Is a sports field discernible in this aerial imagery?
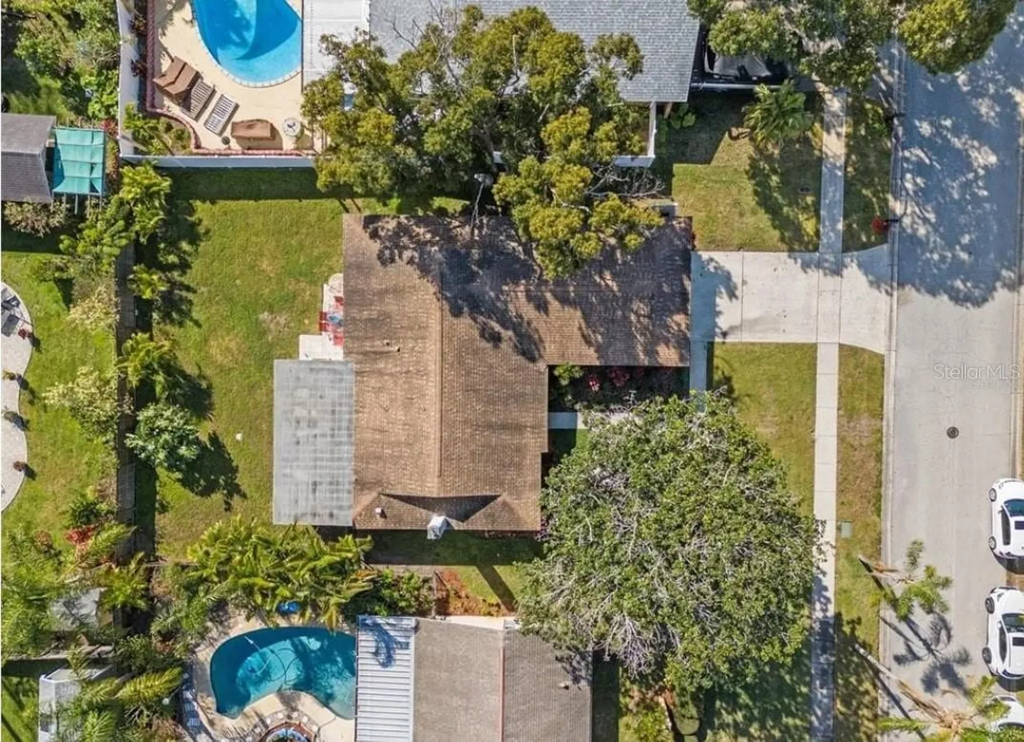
No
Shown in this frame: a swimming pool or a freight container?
swimming pool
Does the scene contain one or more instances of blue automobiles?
No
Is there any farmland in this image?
No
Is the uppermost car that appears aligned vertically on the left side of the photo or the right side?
right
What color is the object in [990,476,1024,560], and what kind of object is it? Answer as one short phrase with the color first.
white car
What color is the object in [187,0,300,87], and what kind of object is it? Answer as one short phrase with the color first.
blue swimming pool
